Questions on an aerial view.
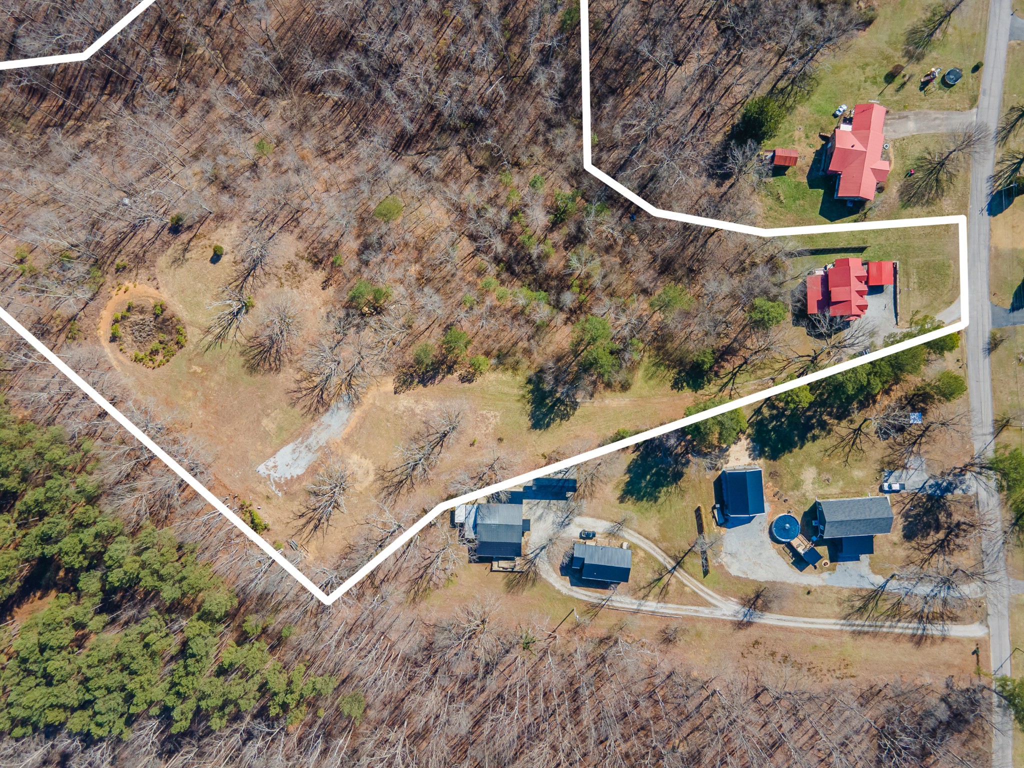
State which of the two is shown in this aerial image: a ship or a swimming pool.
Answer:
swimming pool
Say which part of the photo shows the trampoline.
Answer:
top right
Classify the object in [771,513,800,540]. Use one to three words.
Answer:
swimming pool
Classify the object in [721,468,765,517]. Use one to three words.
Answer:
building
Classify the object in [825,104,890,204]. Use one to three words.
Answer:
house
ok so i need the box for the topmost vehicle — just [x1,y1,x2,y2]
[836,101,850,116]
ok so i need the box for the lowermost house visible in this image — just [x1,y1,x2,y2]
[572,543,632,584]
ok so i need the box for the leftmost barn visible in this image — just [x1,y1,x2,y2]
[455,491,530,557]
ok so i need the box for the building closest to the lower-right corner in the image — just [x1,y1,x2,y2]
[817,496,894,555]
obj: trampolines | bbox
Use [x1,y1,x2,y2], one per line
[944,65,966,85]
